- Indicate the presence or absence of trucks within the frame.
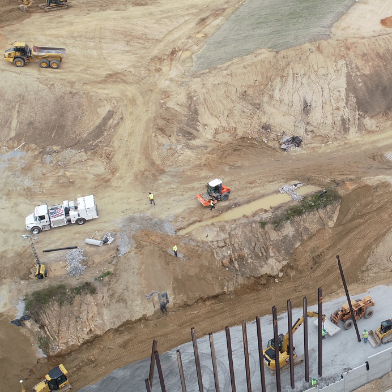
Yes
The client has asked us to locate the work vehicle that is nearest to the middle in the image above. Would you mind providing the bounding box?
[194,183,233,209]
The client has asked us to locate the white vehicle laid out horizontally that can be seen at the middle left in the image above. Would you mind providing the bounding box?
[25,195,99,234]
